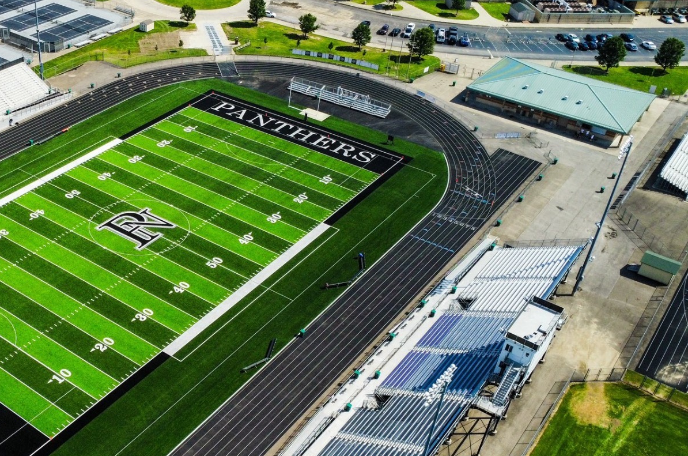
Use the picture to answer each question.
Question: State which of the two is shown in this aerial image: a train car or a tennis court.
tennis court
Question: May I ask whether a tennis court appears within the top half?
Yes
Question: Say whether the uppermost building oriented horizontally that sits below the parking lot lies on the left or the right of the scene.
right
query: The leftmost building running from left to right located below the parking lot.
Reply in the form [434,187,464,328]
[467,56,659,145]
